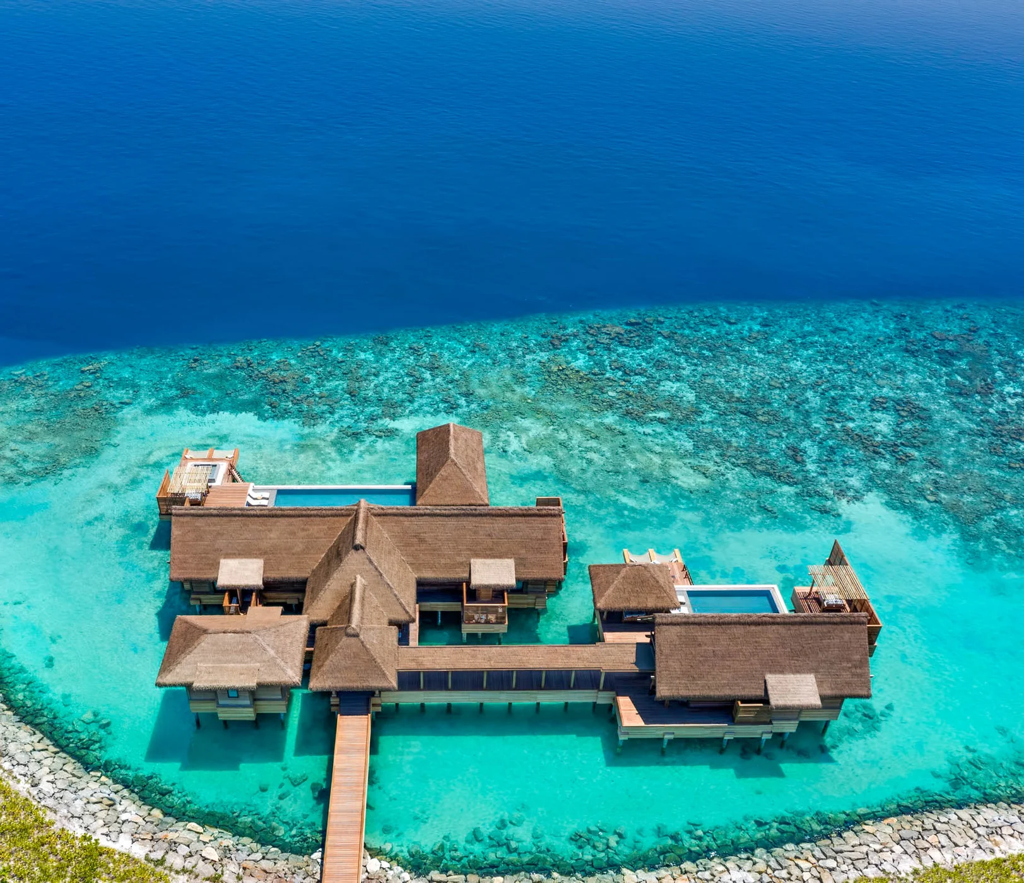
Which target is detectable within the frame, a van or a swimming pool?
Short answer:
swimming pool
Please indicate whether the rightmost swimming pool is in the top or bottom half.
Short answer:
bottom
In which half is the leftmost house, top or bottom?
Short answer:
bottom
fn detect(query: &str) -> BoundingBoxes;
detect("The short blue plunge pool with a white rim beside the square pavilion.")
[674,586,793,613]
